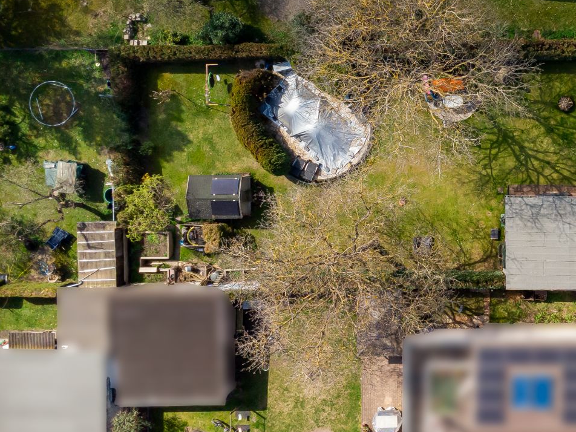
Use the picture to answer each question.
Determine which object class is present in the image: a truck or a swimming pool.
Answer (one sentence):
I can see a swimming pool in this picture.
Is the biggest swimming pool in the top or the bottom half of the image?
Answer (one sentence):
You can find the biggest swimming pool in the top half.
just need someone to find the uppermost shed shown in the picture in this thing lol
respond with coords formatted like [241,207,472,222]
[46,161,96,193]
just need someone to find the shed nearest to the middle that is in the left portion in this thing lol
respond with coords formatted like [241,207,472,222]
[184,176,252,219]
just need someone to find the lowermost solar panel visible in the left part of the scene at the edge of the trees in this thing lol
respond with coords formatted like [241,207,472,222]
[210,201,238,217]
